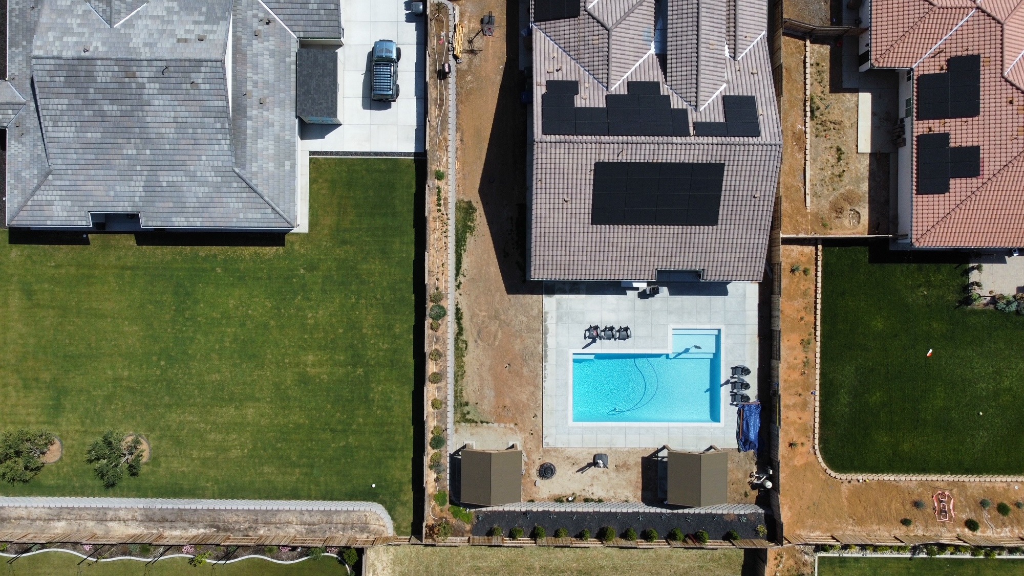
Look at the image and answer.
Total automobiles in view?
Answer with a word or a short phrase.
1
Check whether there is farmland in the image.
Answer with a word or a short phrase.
No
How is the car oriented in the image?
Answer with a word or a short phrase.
from top to bottom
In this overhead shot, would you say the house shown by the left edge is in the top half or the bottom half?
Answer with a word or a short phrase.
top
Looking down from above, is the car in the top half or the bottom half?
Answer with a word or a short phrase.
top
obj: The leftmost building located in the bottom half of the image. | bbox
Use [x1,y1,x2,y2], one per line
[461,440,522,507]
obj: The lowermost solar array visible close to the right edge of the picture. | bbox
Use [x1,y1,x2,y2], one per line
[918,133,980,195]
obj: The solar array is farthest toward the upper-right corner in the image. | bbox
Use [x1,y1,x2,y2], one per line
[919,54,980,120]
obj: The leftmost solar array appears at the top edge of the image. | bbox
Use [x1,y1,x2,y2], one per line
[535,0,580,20]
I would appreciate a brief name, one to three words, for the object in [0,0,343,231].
house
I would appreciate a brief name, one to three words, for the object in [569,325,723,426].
swimming pool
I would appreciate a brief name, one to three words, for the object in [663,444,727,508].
building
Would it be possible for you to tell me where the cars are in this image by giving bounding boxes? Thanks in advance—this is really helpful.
[371,38,403,102]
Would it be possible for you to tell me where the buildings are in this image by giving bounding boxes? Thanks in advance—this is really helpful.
[859,0,1024,252]
[461,440,522,507]
[529,0,784,284]
[0,0,343,231]
[663,444,727,508]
